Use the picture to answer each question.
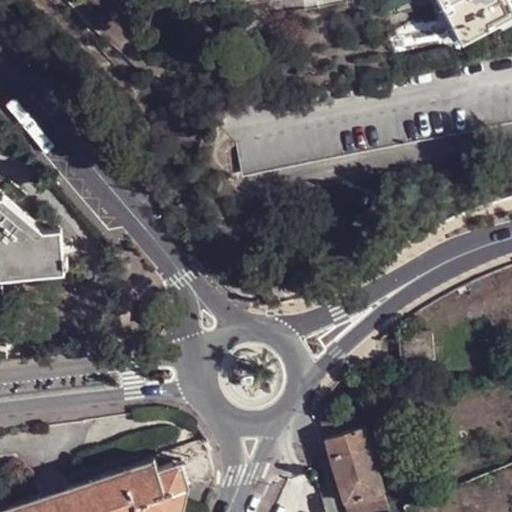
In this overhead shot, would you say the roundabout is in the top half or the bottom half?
bottom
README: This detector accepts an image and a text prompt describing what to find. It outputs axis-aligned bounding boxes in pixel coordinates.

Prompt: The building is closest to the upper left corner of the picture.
[0,192,73,284]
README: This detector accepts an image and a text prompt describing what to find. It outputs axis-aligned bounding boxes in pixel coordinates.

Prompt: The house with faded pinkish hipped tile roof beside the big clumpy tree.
[325,430,392,512]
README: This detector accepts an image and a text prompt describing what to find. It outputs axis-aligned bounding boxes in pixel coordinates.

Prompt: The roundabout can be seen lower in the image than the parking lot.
[172,305,326,446]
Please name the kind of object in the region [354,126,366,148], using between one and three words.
vehicle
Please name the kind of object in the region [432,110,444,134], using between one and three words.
vehicle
